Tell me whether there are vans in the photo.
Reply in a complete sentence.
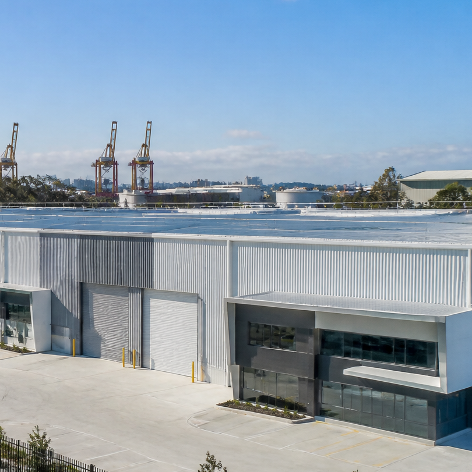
No, there is no van in the image.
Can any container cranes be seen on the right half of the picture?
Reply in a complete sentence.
No, there's no container crane to be seen on the right half of the picture.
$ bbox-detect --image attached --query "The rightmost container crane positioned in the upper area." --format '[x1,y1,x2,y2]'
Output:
[122,121,158,189]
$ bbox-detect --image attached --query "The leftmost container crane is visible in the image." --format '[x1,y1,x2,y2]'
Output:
[0,122,23,189]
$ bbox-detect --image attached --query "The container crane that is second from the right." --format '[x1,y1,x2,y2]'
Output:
[85,122,122,194]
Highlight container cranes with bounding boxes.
[0,122,23,189]
[122,121,158,189]
[85,122,122,194]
